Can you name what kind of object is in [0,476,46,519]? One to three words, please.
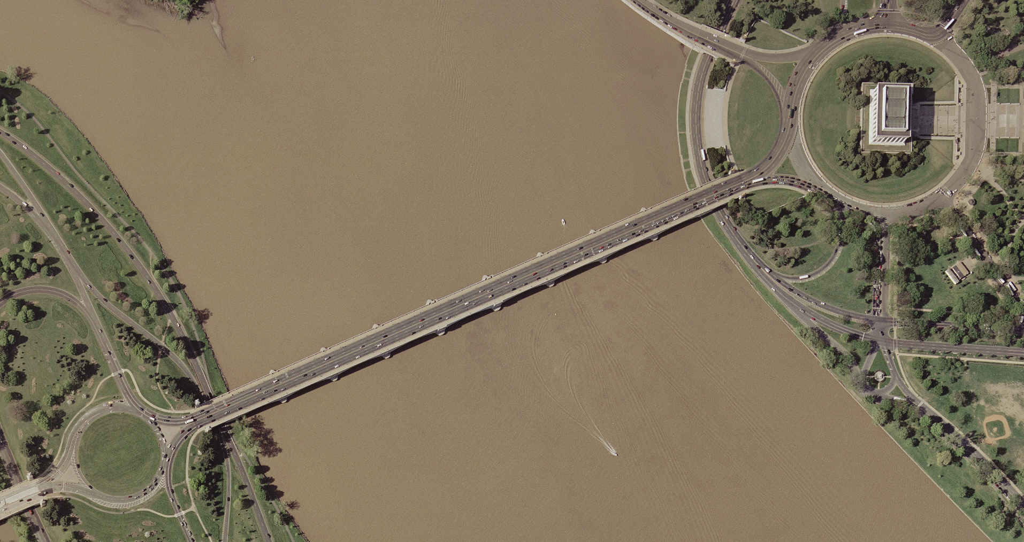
bridge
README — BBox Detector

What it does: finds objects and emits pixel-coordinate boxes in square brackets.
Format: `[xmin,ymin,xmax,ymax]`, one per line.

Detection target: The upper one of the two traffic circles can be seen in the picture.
[723,0,987,216]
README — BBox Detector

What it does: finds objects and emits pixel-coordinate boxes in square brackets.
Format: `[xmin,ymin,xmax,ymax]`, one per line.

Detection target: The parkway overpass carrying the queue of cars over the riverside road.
[668,18,731,58]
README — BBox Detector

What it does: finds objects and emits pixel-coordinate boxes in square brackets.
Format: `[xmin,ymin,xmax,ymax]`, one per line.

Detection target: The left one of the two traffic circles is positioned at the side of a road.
[67,402,172,508]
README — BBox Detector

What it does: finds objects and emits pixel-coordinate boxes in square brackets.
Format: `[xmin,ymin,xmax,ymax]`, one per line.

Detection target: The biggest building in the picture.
[860,81,955,154]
